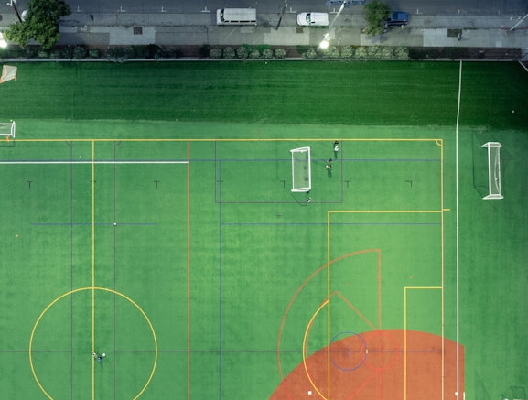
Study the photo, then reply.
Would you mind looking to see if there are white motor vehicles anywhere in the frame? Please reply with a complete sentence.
Yes, you can see a white motor vehicle in this photo.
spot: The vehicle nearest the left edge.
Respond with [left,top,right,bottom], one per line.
[216,8,256,27]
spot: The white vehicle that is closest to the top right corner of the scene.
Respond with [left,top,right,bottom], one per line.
[296,11,328,28]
